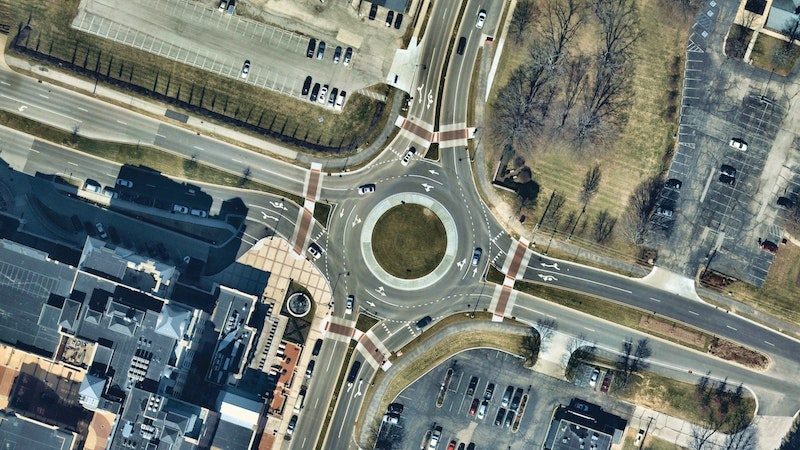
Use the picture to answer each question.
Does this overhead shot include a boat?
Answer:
No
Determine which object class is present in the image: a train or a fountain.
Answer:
fountain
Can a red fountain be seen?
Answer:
No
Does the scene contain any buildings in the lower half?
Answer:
Yes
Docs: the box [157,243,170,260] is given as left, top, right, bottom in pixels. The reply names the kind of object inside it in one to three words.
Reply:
vehicle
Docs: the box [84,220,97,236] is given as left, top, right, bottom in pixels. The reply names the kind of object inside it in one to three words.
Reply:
vehicle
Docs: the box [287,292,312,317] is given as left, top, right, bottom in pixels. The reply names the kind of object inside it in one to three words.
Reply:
fountain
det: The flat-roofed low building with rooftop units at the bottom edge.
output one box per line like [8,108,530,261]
[544,409,623,450]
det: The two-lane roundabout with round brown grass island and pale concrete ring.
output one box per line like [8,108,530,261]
[287,114,531,373]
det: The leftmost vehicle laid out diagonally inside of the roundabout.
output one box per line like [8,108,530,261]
[307,243,323,259]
